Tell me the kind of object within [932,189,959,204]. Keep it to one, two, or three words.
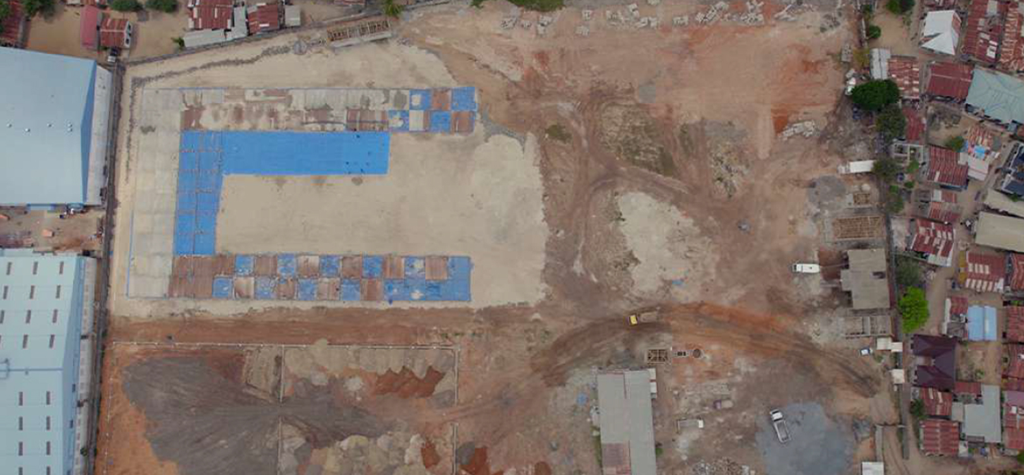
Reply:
shed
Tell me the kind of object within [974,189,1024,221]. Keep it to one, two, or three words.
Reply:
house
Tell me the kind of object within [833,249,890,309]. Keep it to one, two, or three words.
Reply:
building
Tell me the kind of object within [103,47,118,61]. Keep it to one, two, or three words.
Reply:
vehicle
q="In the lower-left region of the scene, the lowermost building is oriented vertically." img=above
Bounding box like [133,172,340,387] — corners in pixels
[0,256,94,475]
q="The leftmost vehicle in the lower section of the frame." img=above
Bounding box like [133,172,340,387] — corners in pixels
[629,311,662,328]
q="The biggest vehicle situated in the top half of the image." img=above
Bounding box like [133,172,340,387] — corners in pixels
[839,160,879,175]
